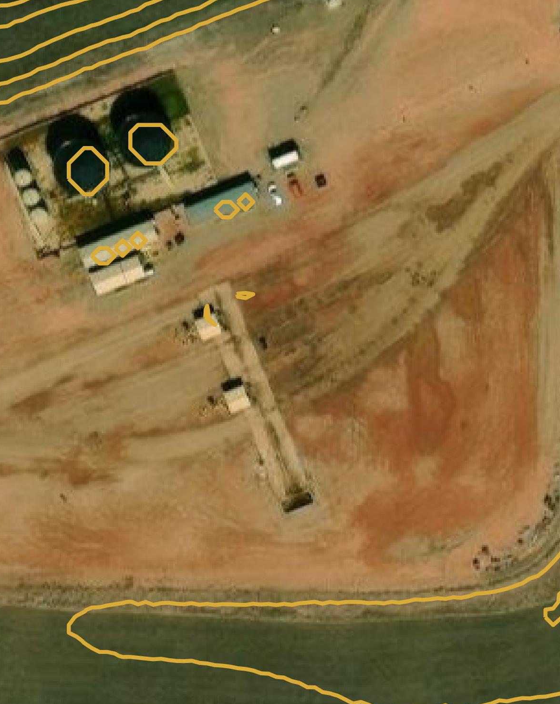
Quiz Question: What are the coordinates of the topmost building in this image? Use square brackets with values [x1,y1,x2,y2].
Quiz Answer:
[183,181,256,222]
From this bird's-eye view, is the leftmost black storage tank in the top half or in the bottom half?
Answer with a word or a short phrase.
top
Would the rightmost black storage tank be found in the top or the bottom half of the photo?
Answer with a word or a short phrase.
top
